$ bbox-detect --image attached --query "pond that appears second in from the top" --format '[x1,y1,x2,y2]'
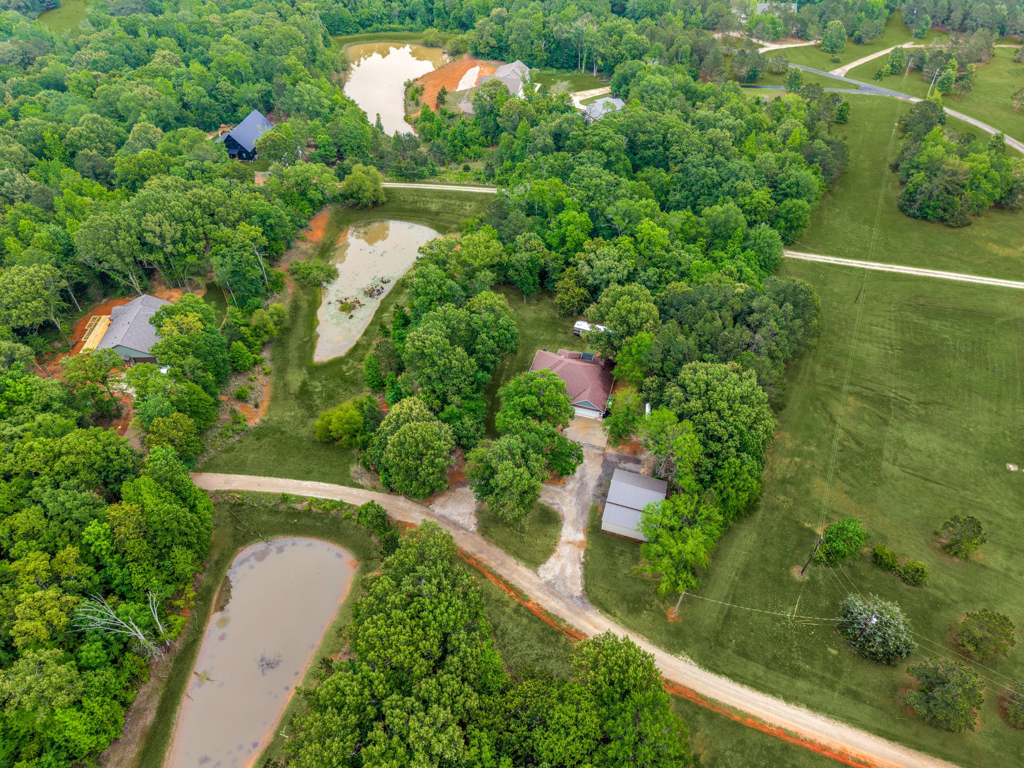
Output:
[313,220,442,363]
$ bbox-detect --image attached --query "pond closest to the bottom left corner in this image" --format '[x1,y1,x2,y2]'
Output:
[162,535,358,768]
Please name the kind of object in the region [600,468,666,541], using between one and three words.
shed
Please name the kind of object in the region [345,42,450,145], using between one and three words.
pond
